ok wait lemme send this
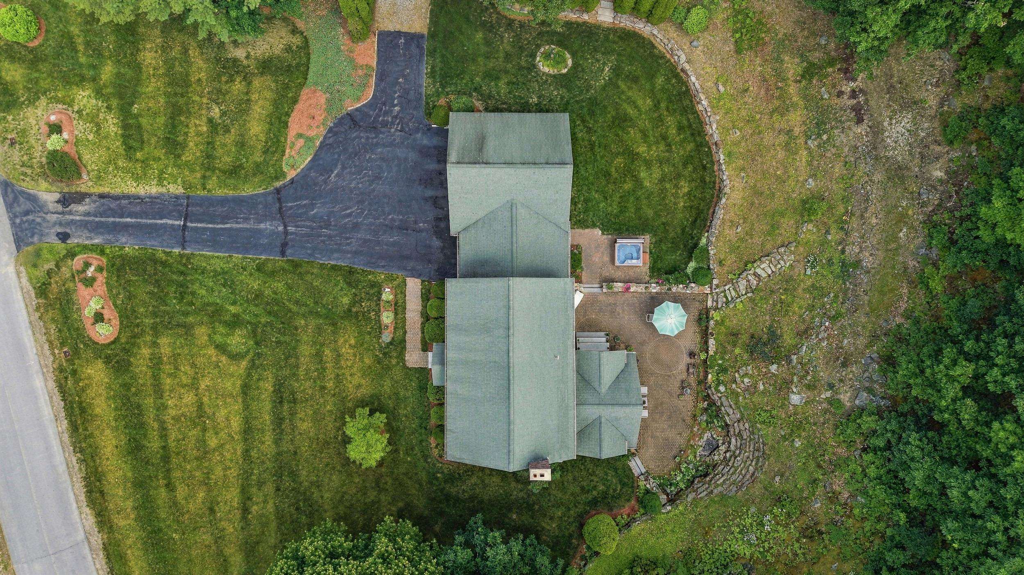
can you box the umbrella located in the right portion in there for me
[653,301,686,335]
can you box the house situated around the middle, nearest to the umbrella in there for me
[431,110,642,482]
